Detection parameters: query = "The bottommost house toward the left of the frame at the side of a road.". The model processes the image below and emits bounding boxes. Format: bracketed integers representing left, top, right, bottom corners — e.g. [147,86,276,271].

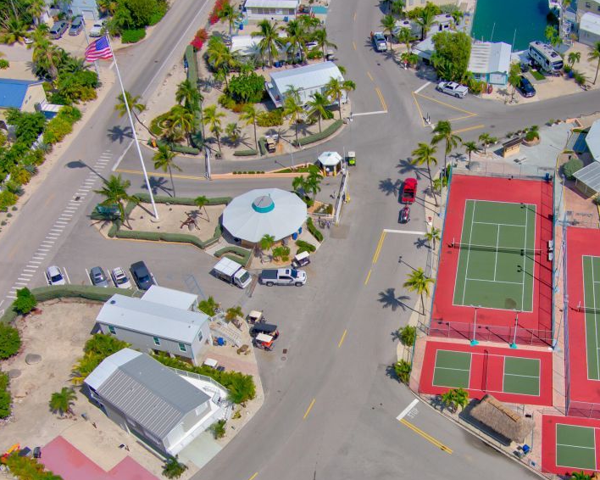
[84,346,245,464]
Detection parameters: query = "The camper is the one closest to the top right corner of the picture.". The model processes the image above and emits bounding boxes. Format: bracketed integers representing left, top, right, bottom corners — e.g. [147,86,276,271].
[526,42,568,81]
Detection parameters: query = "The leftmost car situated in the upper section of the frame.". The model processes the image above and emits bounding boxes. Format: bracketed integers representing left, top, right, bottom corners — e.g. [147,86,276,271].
[19,34,38,48]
